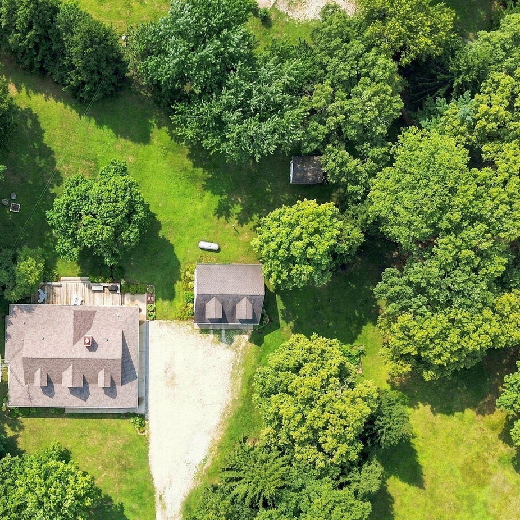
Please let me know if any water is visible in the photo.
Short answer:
No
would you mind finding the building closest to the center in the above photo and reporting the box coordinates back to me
[193,264,265,323]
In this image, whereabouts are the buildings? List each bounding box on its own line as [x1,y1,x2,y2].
[289,156,327,184]
[6,304,138,408]
[193,264,265,323]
